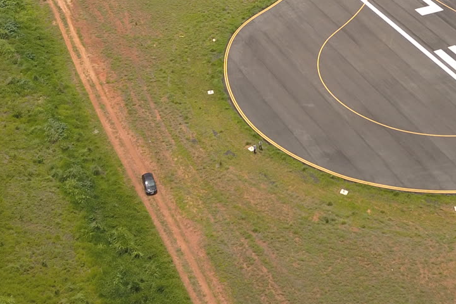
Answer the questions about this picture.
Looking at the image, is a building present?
No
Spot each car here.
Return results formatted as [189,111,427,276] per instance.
[142,169,159,190]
